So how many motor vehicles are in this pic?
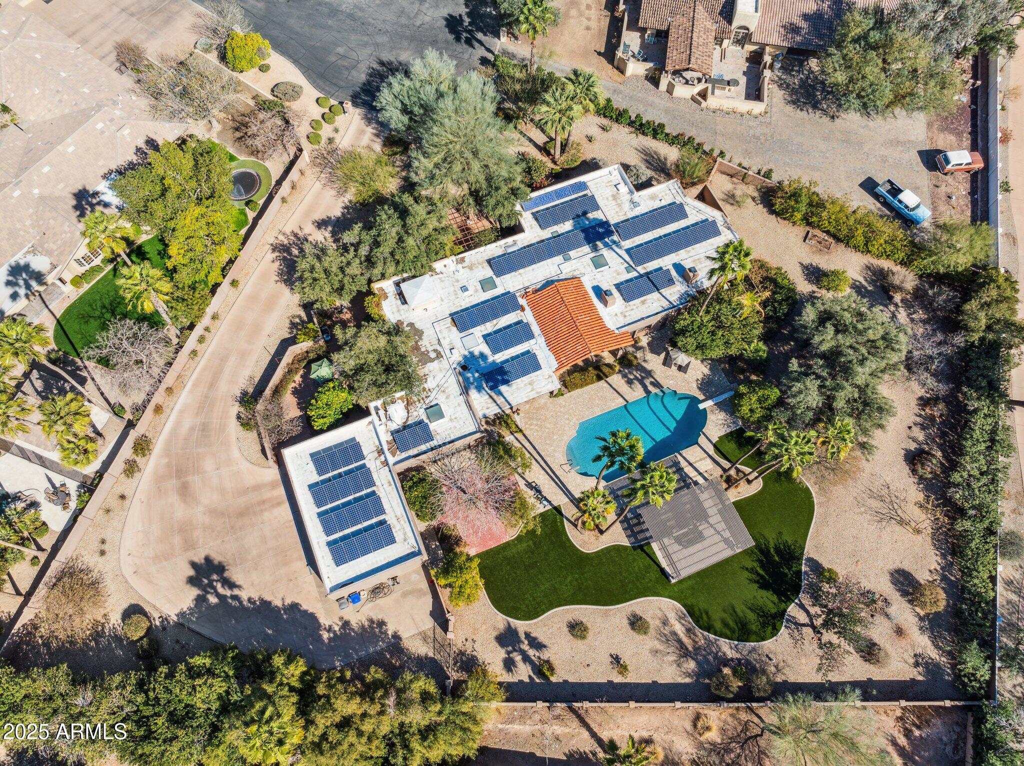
2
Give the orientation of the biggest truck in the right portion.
diagonally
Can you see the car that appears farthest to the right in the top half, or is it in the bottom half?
top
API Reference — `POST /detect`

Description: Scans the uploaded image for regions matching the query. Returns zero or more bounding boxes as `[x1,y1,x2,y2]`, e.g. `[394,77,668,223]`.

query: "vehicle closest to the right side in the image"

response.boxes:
[939,152,983,177]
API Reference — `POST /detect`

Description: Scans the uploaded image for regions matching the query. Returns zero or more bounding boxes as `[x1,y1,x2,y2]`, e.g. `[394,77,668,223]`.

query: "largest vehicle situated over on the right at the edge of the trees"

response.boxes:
[875,182,928,229]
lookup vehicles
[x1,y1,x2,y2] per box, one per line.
[875,182,928,229]
[939,152,983,177]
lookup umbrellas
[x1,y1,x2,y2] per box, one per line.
[666,346,690,368]
[309,360,335,380]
